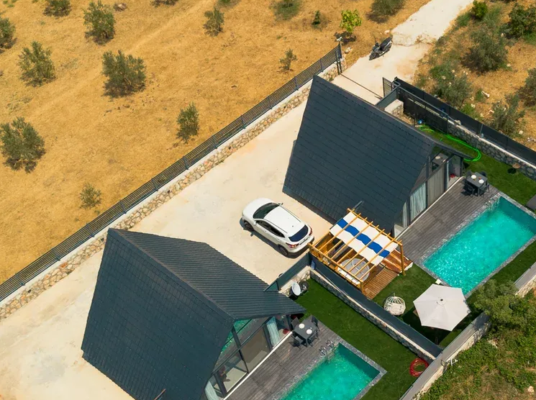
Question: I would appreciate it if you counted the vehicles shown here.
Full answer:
In total, there are 2 vehicles in the scene.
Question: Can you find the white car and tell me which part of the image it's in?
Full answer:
The white car appears toward the center of the photo.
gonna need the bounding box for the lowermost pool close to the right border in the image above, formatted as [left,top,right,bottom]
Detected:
[416,192,536,301]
